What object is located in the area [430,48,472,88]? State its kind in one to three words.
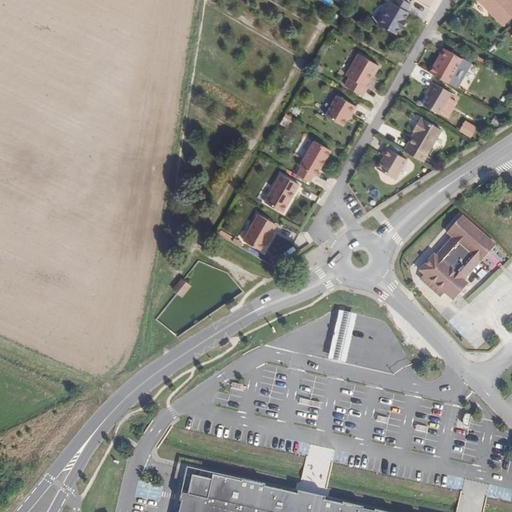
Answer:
house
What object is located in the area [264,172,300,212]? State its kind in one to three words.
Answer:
house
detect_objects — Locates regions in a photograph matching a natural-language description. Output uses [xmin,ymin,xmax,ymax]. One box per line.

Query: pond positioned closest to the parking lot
[154,260,245,337]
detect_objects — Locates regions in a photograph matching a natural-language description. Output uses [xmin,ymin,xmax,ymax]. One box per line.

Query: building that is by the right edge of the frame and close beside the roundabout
[418,215,496,304]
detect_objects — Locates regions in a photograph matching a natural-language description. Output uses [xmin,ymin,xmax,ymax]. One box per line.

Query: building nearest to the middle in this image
[248,214,284,252]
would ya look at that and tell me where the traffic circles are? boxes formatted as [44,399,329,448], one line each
[327,224,396,296]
